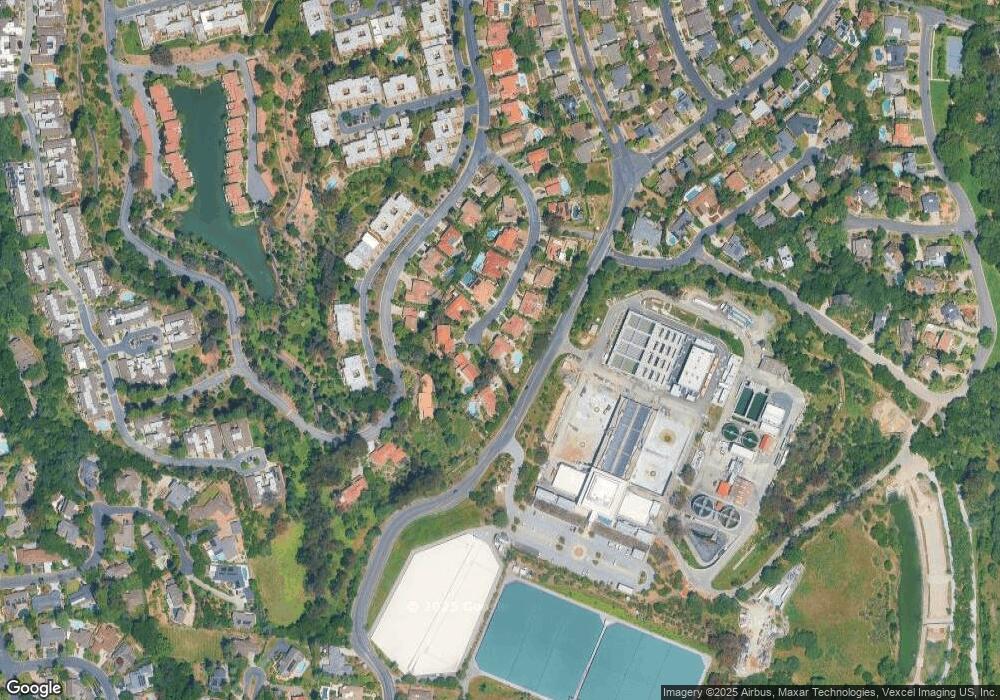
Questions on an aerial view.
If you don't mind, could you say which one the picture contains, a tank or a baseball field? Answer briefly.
tank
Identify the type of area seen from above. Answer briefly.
residential area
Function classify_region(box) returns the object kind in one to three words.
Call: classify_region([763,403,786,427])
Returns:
shed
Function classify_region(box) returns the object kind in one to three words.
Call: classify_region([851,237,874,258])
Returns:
house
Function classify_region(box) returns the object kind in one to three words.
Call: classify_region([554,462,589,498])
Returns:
building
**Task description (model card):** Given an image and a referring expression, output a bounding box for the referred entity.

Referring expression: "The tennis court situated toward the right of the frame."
[945,35,963,78]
